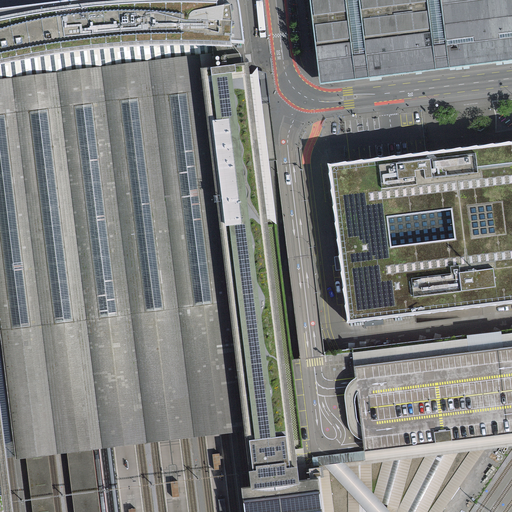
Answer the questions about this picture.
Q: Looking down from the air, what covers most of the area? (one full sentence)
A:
The scene is dominated by buildings.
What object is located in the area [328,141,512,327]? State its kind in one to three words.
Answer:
building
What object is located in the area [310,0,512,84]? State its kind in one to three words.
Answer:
building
